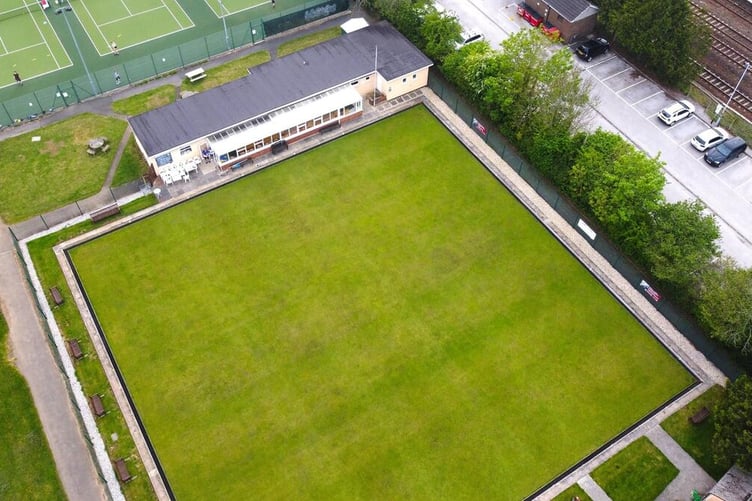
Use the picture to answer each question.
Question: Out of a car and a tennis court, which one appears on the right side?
car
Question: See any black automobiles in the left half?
No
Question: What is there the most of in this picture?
grass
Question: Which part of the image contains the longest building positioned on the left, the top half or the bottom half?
top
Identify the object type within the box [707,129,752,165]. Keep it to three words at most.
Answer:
car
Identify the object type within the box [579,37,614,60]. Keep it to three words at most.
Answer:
car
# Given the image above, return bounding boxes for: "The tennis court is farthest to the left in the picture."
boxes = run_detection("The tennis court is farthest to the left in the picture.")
[0,0,73,88]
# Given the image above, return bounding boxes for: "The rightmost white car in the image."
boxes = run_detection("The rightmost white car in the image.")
[692,123,734,151]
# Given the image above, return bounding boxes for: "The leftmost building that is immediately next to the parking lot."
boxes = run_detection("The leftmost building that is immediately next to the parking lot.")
[124,21,432,180]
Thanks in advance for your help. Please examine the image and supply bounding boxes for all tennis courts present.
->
[69,0,194,56]
[0,0,73,88]
[205,0,270,18]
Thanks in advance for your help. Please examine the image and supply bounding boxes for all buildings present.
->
[704,461,752,501]
[124,21,432,180]
[514,0,605,41]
